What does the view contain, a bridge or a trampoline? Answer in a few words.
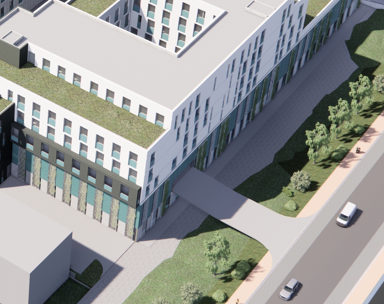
bridge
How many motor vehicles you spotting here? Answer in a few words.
2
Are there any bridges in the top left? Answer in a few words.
No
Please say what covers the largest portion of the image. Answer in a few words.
buildings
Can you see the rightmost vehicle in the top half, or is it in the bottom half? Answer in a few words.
bottom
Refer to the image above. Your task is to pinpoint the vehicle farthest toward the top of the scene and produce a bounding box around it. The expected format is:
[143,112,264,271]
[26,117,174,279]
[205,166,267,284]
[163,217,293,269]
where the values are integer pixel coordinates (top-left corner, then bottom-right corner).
[337,203,359,227]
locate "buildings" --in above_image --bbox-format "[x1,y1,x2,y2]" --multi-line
[0,191,73,304]
[0,0,340,243]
